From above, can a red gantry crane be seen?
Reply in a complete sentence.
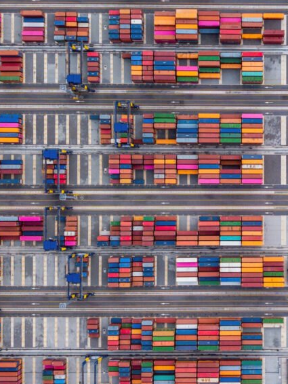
No, the photo shows no red gantry crane.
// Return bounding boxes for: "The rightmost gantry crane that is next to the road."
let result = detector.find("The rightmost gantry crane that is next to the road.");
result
[113,101,141,147]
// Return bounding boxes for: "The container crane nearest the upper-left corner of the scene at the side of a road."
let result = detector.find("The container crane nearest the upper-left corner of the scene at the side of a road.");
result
[68,41,97,91]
